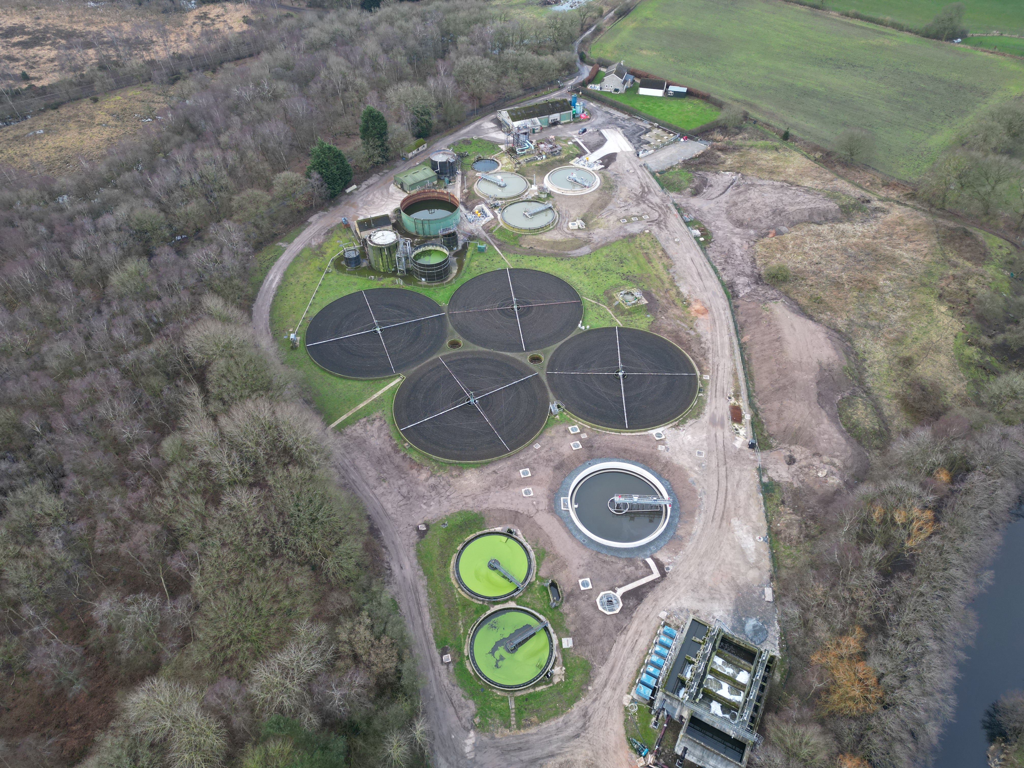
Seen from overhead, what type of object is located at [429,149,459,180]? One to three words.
storage tank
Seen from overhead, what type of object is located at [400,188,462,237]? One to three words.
storage tank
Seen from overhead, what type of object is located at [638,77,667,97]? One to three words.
building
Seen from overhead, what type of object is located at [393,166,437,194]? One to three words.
shed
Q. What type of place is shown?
industrial area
